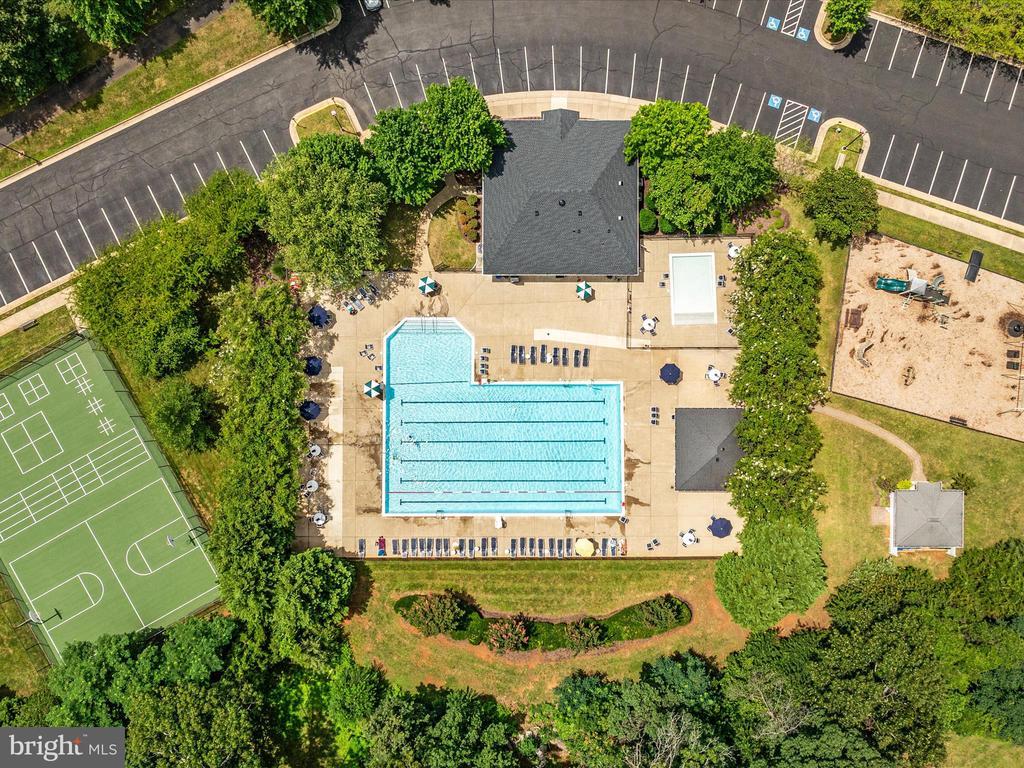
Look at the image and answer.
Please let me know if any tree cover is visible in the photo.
Yes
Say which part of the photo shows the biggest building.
top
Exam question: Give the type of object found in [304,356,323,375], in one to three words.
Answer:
umbrella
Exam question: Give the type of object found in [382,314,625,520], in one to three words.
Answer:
swimming pool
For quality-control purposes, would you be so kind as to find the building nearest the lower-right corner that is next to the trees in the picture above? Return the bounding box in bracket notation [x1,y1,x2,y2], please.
[885,482,964,554]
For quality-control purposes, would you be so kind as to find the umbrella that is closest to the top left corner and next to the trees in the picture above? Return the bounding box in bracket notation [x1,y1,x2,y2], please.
[307,305,330,328]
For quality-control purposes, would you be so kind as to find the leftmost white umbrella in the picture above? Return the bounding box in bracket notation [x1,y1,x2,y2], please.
[363,381,381,397]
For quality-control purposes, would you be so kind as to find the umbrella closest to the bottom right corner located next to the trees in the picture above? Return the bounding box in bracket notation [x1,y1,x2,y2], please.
[708,515,732,539]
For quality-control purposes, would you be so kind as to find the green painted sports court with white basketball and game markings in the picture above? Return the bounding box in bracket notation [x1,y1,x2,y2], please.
[0,331,228,680]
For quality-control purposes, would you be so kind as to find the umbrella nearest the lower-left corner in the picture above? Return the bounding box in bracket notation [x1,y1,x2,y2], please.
[300,400,321,420]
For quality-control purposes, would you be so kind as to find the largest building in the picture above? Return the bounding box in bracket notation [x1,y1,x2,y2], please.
[482,108,639,275]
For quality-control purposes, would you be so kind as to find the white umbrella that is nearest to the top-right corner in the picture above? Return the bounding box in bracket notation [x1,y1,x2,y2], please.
[575,281,593,300]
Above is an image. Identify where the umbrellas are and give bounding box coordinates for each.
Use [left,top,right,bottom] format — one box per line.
[708,515,732,539]
[659,363,680,384]
[363,381,381,397]
[307,305,330,328]
[300,400,321,420]
[418,277,438,295]
[575,281,593,300]
[304,356,323,375]
[574,537,594,558]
